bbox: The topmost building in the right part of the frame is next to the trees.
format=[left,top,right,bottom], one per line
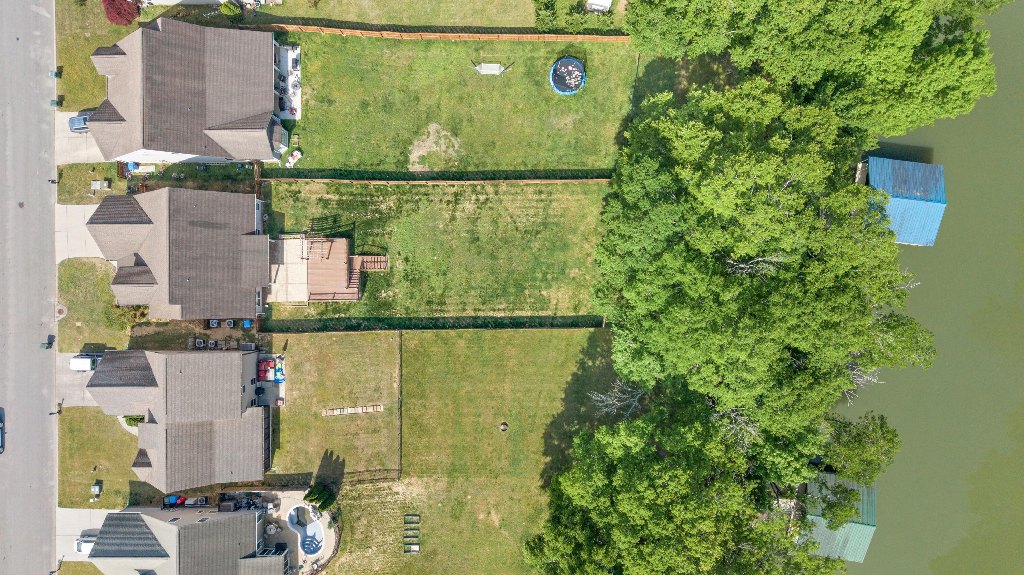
[861,156,947,246]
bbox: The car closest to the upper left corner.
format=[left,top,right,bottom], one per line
[68,116,92,136]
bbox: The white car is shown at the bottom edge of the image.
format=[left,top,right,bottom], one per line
[75,534,97,552]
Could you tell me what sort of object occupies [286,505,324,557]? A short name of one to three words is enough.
swimming pool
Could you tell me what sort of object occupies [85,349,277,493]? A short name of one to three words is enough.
house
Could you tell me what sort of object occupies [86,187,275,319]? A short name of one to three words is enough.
house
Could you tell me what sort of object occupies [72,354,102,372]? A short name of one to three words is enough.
car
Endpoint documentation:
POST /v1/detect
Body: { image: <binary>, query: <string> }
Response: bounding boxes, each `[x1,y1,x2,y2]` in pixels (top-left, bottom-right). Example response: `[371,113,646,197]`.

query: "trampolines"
[550,53,586,95]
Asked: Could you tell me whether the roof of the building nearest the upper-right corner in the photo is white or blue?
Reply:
blue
